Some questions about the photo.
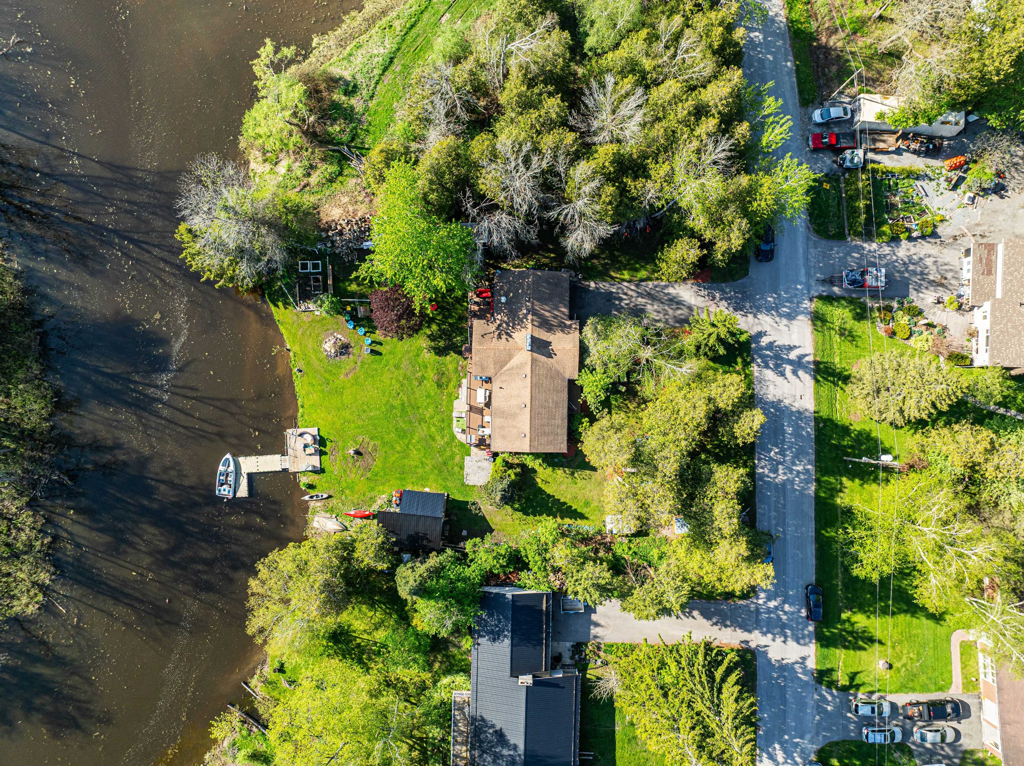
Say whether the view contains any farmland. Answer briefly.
No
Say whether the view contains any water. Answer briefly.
Yes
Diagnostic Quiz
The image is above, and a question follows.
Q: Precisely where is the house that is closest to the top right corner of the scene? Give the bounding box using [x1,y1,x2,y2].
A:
[958,236,1024,369]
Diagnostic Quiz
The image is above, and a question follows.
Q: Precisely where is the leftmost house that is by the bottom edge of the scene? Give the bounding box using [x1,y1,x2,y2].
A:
[471,586,581,766]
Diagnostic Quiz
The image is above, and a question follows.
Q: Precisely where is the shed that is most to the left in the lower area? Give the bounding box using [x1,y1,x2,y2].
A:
[377,486,449,550]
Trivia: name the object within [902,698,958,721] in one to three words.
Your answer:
truck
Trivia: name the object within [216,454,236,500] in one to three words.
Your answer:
boat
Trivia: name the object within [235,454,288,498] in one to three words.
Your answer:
pier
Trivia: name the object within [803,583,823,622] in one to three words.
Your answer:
car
